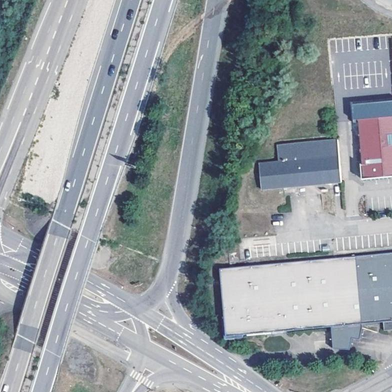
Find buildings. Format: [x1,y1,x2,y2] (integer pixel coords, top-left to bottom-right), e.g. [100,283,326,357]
[220,252,392,338]
[258,140,342,190]
[358,117,392,180]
